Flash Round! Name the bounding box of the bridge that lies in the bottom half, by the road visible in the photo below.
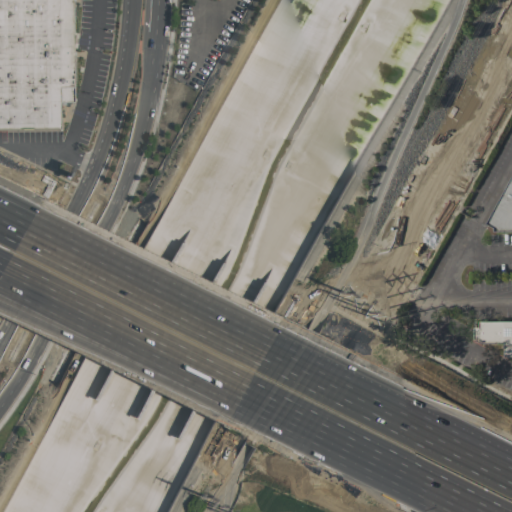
[0,200,329,448]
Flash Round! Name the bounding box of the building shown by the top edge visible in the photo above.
[0,0,76,130]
